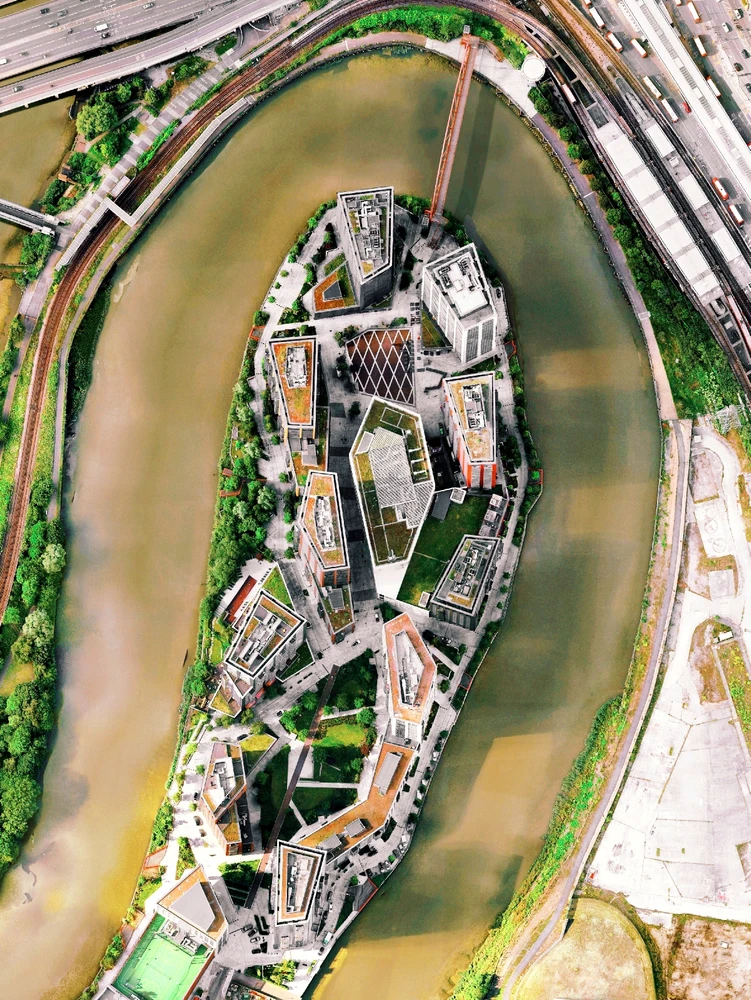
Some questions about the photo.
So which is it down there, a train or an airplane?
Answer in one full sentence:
The one in the frame is a train.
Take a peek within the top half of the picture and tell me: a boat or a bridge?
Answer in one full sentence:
The feature located within the top half of the picture is a bridge.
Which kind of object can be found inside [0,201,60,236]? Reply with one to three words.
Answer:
bridge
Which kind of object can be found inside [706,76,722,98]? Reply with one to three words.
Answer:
vehicle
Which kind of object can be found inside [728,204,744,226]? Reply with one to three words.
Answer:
vehicle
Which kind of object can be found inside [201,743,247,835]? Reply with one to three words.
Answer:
building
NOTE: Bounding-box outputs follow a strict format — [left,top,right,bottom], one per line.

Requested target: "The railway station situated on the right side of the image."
[596,82,751,312]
